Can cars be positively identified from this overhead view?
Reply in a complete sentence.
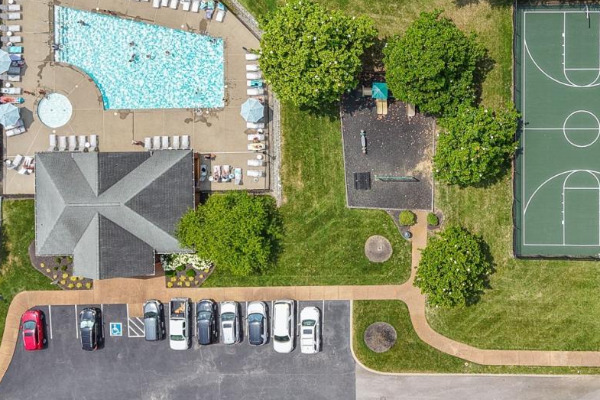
Yes, there is a car in the image.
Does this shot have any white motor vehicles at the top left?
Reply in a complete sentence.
No, there's no white motor vehicle to be seen at the top left.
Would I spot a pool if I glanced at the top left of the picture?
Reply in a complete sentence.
Yes, a pool appears at the top left of the picture.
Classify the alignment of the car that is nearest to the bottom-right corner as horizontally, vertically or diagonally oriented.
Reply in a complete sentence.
I'd say the car that is nearest to the bottom-right corner is aligned vertically in the picture.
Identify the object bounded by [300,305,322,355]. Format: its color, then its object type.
white car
